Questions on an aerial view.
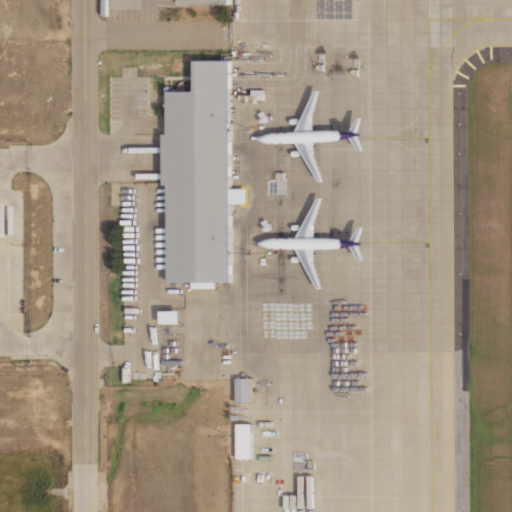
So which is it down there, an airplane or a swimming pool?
airplane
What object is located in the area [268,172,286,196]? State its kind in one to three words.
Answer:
work vehicle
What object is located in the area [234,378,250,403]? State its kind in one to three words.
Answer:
shed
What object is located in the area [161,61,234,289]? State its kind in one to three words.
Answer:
building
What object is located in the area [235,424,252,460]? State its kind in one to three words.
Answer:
hangar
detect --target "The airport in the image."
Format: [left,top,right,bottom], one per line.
[232,0,512,512]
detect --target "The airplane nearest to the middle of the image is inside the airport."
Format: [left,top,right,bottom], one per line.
[257,199,362,289]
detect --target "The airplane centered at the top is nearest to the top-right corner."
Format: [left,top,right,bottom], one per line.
[257,90,362,181]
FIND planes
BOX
[257,199,362,289]
[257,90,362,181]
